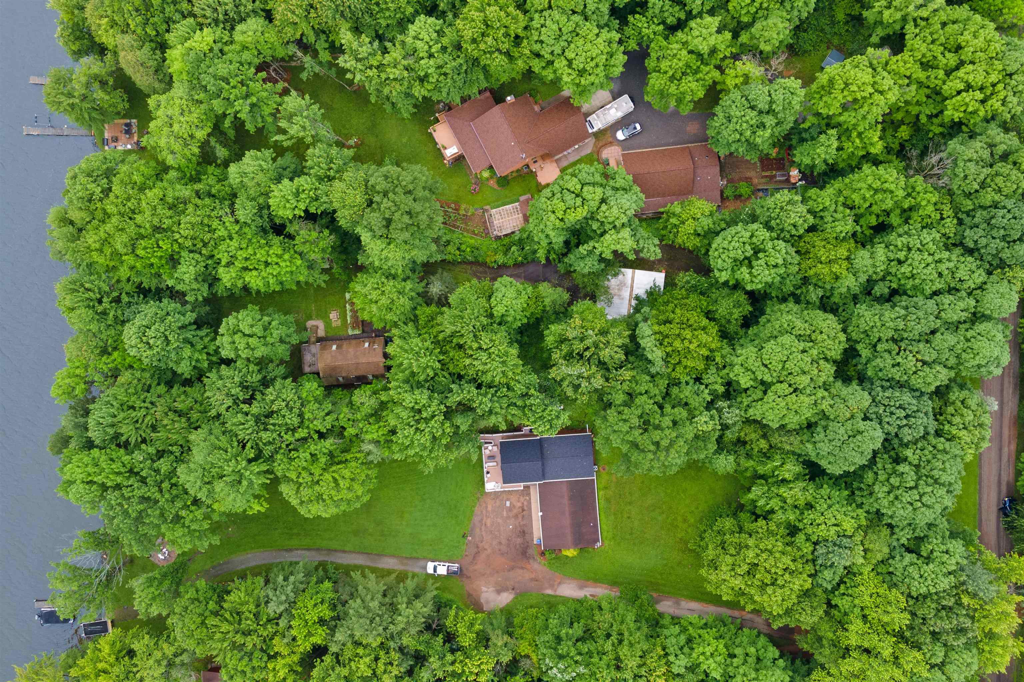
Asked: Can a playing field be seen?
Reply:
No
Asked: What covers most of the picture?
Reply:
trees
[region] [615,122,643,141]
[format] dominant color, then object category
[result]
white car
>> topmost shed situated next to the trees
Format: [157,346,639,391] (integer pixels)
[818,52,845,77]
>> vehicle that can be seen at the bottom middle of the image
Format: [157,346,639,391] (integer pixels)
[427,561,460,576]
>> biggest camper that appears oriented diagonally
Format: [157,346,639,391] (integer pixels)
[586,95,636,134]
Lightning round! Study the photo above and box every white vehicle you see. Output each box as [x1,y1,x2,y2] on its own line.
[427,561,460,576]
[586,95,636,134]
[615,122,643,141]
